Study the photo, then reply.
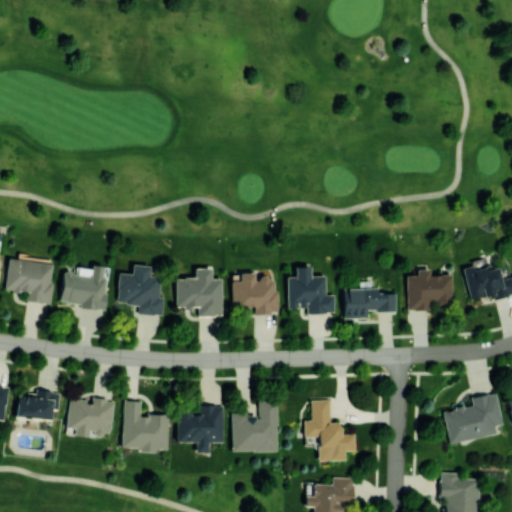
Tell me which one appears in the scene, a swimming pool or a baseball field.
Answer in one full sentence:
Visible in the photo is a swimming pool.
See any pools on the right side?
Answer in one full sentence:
No, on the right side there is no pool.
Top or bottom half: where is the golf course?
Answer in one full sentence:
You can find the golf course in the top half.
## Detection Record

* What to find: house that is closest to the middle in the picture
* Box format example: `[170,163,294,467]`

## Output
[232,269,280,314]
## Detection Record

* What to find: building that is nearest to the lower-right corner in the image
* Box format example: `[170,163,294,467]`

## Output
[442,474,482,512]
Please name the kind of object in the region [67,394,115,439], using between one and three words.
house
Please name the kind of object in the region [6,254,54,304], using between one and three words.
house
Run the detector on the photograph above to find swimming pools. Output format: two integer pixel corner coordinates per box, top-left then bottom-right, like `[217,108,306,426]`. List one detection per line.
[10,429,52,458]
